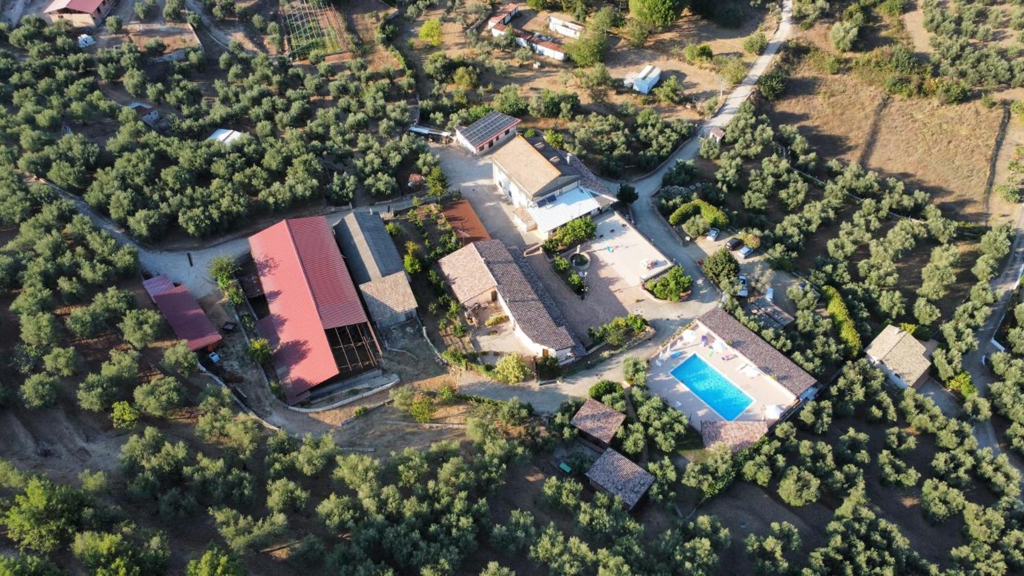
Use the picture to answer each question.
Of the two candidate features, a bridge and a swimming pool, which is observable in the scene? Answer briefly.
swimming pool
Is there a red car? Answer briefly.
No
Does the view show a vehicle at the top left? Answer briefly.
No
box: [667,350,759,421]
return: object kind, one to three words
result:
swimming pool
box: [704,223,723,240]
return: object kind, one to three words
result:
car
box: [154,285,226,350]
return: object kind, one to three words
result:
shed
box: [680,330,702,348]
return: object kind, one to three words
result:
umbrella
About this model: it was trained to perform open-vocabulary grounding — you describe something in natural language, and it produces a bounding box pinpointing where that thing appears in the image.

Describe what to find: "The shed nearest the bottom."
[585,447,655,516]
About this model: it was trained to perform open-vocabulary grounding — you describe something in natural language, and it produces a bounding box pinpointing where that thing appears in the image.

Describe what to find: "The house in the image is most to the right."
[865,325,931,395]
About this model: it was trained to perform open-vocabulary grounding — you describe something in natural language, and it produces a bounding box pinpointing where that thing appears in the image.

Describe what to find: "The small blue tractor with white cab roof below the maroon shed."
[206,348,223,366]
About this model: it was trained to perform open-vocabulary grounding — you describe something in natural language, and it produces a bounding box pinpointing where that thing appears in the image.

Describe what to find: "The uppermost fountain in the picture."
[568,251,590,268]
